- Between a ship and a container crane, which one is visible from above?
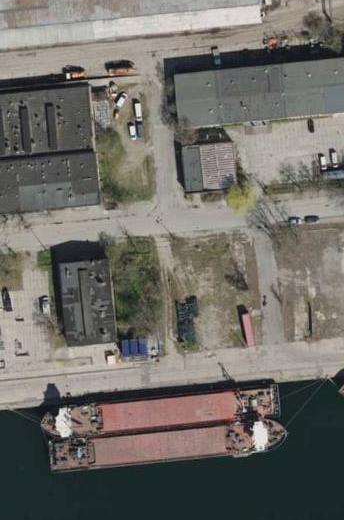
ship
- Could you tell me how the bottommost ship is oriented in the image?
horizontally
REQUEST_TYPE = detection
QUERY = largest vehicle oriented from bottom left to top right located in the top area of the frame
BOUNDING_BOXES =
[114,92,128,109]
